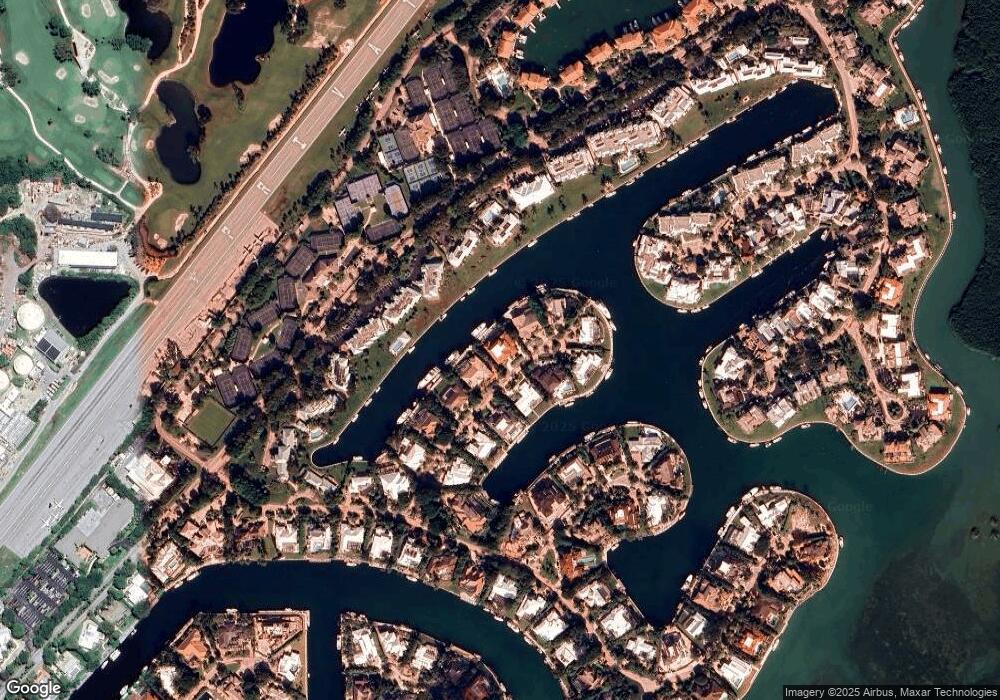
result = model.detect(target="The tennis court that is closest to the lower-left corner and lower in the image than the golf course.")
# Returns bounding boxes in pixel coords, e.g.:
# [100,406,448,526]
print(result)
[215,365,257,405]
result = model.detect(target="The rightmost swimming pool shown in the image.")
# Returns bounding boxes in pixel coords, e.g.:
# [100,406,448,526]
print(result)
[894,105,921,129]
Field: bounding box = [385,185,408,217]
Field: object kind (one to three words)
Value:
tennis court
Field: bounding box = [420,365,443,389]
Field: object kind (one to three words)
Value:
boat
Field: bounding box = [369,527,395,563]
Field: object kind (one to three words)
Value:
house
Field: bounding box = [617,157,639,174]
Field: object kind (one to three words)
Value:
swimming pool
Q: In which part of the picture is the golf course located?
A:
top left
